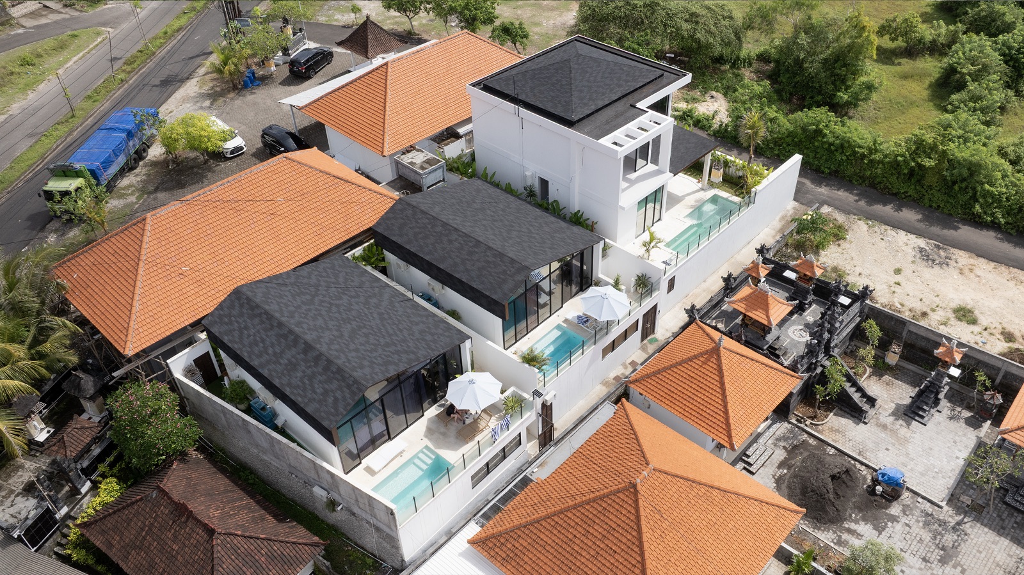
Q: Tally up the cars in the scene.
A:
three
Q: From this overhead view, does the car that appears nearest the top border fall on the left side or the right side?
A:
left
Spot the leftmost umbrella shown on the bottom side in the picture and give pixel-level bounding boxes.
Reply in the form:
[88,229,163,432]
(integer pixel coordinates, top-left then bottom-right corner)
[441,371,505,417]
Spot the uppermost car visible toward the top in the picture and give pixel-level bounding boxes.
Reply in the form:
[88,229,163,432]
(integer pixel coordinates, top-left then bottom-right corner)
[287,46,333,77]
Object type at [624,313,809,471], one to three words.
house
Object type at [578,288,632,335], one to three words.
umbrella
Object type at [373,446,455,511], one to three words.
swimming pool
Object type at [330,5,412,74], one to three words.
building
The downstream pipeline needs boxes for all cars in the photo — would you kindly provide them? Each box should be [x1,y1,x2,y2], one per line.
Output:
[260,121,312,161]
[203,114,246,159]
[287,46,333,77]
